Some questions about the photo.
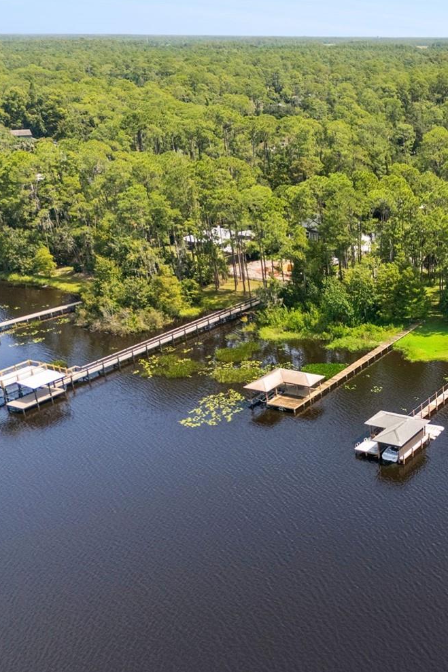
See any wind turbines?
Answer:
No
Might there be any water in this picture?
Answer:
Yes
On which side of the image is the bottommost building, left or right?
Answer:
right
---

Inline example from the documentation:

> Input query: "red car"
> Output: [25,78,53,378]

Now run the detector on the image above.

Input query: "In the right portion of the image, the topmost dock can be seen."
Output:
[315,324,423,392]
